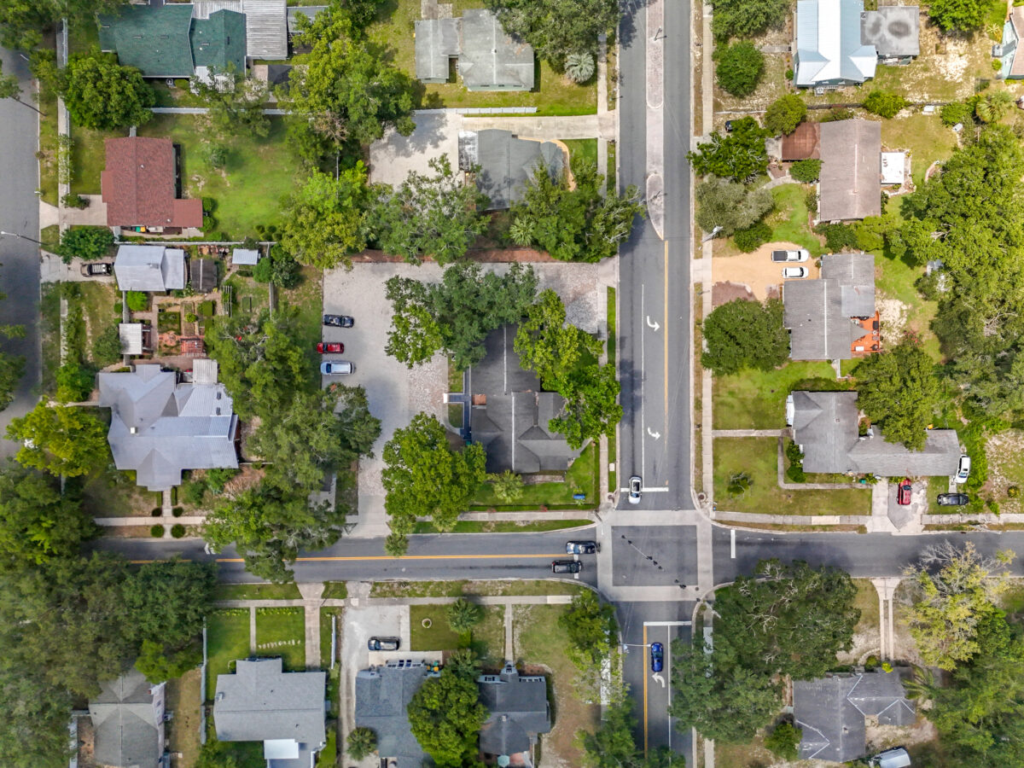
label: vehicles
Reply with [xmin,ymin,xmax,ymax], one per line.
[552,559,581,574]
[628,475,642,503]
[206,542,223,556]
[650,642,664,671]
[369,635,400,651]
[566,539,597,555]
[321,360,353,375]
[952,455,973,482]
[324,314,354,328]
[771,247,808,263]
[83,262,114,276]
[781,266,807,279]
[895,478,913,504]
[318,341,345,354]
[935,492,966,507]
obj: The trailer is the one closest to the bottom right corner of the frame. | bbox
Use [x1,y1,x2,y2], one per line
[865,744,911,768]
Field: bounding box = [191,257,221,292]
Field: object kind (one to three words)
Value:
shed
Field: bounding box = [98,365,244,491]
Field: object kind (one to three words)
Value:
house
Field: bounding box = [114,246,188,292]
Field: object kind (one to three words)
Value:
house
